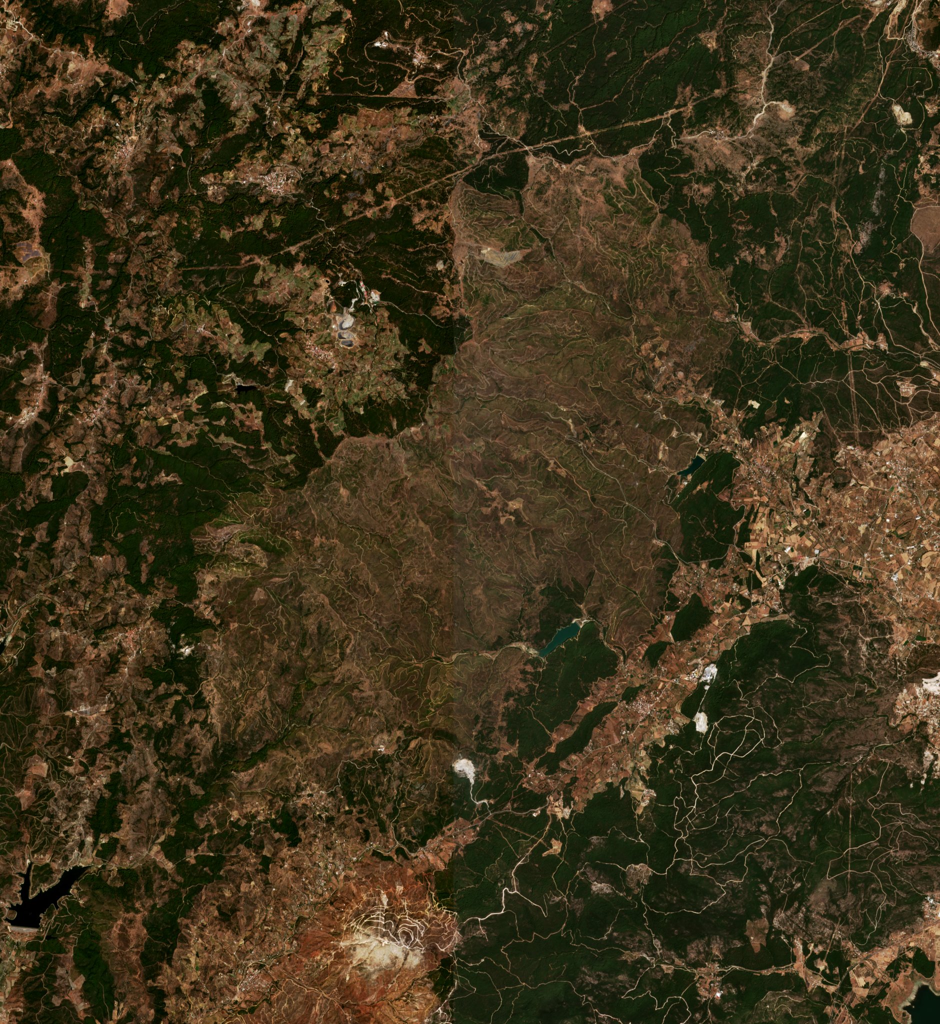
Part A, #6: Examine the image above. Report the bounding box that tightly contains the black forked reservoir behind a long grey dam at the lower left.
[6,863,93,928]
